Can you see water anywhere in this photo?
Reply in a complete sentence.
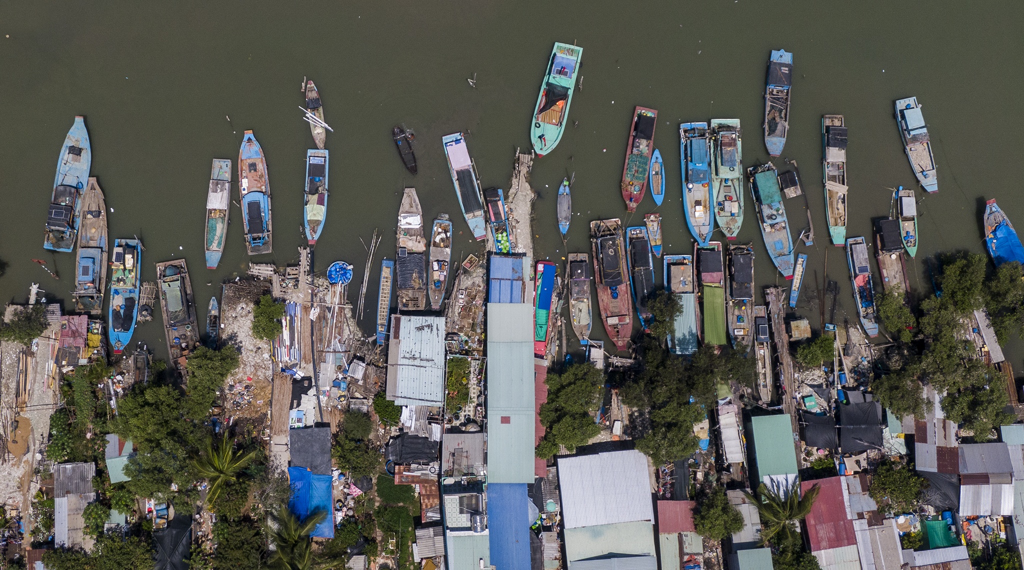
Yes, there's water in this view.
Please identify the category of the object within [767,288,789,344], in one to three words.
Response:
pier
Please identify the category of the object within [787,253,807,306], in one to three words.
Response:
boat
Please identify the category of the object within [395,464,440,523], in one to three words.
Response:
shed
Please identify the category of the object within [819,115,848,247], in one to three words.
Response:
boat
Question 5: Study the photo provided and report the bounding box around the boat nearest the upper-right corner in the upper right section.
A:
[892,97,938,195]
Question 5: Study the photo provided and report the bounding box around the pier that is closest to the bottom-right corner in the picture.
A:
[999,359,1019,404]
